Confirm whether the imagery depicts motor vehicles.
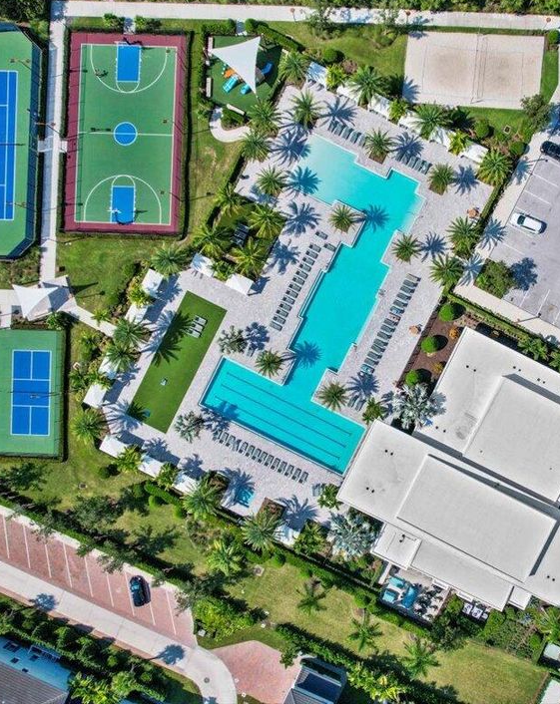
Yes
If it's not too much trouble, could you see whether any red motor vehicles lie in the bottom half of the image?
No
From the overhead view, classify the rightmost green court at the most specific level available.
basketball court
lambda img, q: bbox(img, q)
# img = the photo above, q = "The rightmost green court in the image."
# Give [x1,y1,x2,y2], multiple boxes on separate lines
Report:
[65,33,186,234]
